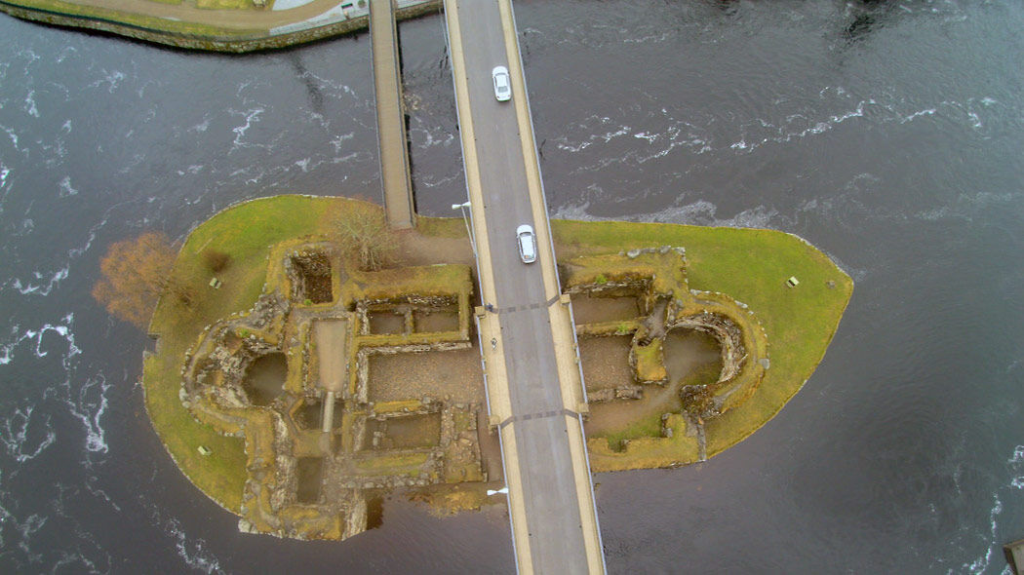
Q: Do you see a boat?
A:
No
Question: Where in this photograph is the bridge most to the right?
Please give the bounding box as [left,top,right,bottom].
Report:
[444,0,607,575]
